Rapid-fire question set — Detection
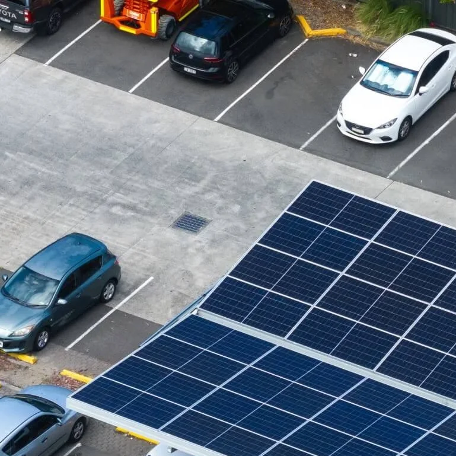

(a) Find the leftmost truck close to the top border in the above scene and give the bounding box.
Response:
[0,0,73,36]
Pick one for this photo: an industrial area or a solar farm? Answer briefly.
solar farm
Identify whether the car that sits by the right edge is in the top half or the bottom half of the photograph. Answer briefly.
top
